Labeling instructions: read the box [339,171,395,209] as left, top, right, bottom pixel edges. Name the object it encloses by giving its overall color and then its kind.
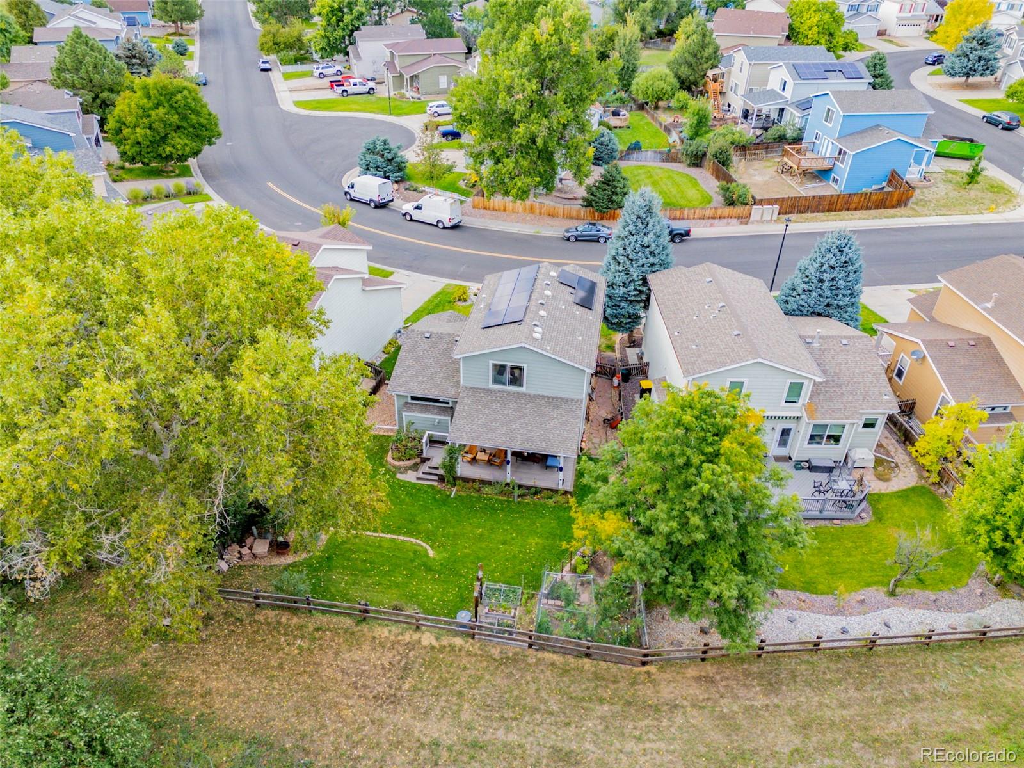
white van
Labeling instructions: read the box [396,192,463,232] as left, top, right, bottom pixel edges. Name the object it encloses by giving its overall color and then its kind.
white van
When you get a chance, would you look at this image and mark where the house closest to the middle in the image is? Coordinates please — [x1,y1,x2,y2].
[386,260,605,498]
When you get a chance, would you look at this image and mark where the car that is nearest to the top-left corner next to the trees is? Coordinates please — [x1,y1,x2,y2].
[190,70,206,84]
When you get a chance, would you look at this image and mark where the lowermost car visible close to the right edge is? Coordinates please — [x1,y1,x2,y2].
[985,111,1019,129]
